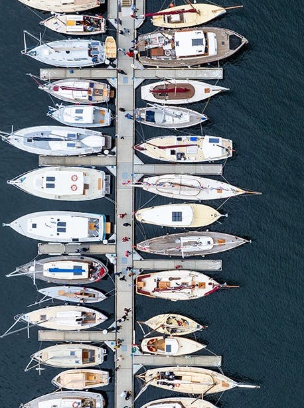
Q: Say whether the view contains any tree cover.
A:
No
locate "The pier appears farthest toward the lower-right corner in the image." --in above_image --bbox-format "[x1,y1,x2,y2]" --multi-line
[133,345,222,377]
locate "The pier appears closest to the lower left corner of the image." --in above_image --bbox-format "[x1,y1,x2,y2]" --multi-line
[37,321,115,351]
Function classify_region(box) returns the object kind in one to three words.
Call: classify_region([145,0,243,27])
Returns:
boat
